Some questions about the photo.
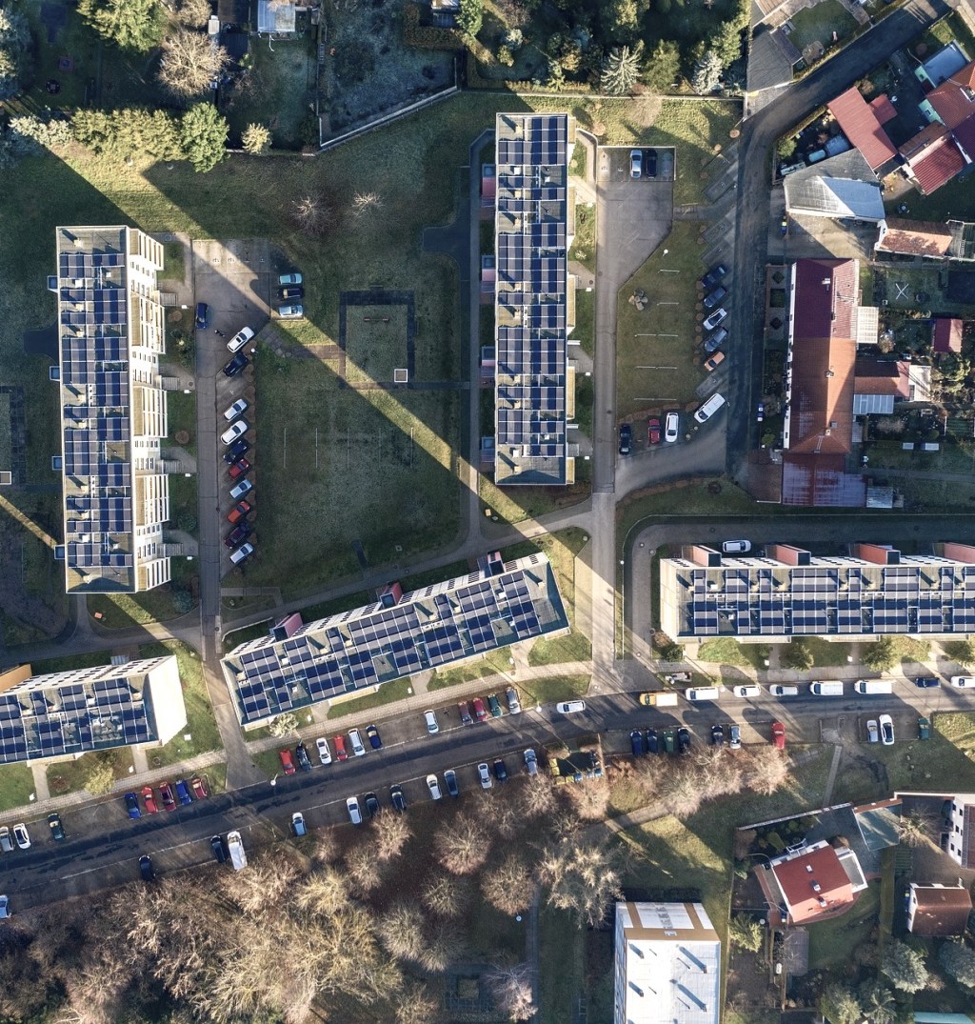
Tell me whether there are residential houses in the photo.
Yes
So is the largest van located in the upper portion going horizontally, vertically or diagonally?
diagonally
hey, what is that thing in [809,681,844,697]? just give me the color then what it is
white vehicle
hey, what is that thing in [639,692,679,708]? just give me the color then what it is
white vehicle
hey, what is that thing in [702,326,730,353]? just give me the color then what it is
blue car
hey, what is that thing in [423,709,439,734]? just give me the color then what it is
white car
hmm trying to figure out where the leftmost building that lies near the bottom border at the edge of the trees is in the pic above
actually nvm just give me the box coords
[616,903,721,1024]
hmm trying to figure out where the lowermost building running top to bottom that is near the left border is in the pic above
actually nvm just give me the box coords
[46,224,186,593]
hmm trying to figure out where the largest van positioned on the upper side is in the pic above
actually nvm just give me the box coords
[691,391,728,426]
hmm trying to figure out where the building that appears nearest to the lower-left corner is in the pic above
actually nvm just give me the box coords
[0,655,184,772]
